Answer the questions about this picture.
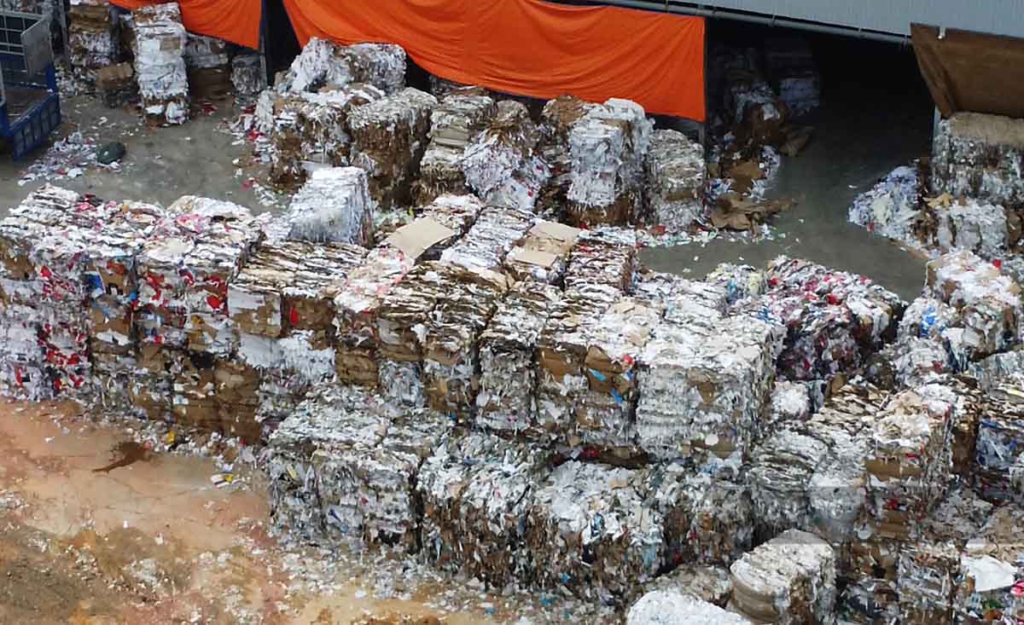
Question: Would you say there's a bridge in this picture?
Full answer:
No, I can see no bridge in this picture.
